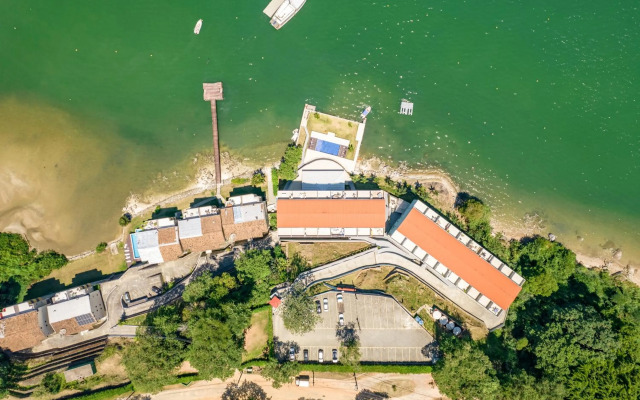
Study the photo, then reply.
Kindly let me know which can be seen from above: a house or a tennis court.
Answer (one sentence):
The one in the frame is a house.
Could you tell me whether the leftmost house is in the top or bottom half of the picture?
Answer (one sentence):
You can find the leftmost house in the bottom half.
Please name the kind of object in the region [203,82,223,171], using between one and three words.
pier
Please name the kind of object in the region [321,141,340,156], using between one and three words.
swimming pool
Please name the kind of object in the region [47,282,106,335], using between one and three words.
house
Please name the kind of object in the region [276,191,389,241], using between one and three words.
building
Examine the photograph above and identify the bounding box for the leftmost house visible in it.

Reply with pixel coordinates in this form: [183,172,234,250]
[0,292,64,350]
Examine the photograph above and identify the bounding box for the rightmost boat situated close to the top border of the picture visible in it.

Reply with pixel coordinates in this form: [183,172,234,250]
[268,0,301,31]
